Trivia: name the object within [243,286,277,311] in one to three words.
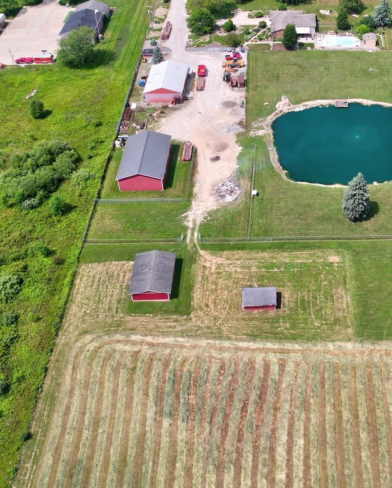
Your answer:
shed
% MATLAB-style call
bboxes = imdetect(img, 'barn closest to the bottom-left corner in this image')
[128,251,176,301]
